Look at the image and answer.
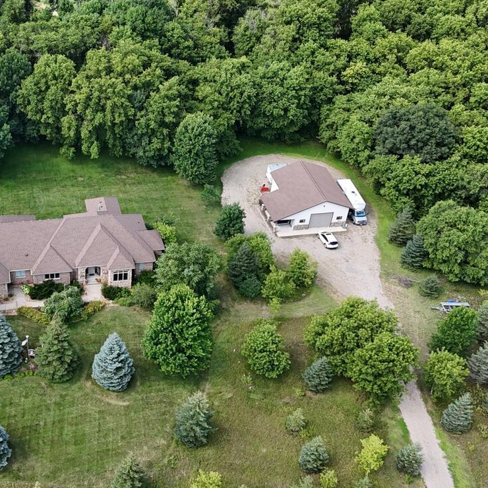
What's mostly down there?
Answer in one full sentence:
The bulk of the photo consists of trees.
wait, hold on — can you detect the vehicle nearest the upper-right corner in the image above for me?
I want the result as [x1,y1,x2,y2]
[338,178,368,222]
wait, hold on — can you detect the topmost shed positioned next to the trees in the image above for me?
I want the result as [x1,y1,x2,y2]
[260,160,355,233]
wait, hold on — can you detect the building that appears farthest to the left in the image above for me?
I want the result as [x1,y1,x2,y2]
[0,197,165,297]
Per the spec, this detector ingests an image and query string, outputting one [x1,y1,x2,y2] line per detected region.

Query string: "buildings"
[260,160,355,233]
[0,197,165,297]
